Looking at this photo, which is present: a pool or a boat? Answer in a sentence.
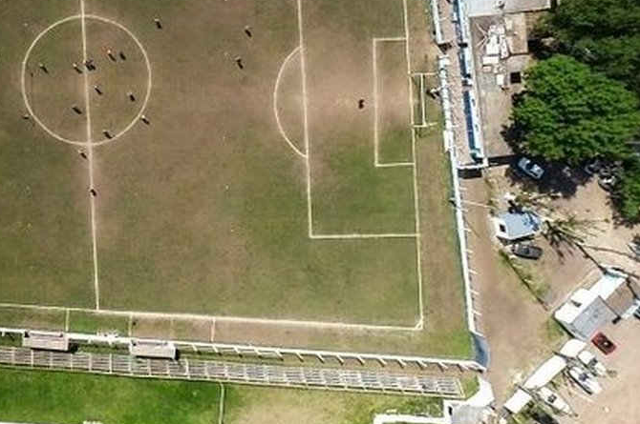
Looking from above, you can make out a boat.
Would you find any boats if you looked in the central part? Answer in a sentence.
No, in the central part there is no boat.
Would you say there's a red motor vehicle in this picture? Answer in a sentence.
Yes, a red motor vehicle appears in the view.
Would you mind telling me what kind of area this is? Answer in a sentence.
The picture captures a sports ground.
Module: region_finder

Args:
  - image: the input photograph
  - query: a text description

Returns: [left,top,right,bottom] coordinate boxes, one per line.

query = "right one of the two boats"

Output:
[565,367,604,395]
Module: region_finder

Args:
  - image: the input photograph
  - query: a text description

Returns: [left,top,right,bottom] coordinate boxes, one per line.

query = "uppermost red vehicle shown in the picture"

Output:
[590,333,614,355]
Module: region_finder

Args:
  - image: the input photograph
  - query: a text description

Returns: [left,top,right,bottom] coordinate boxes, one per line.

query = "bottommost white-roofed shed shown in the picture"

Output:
[441,397,492,424]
